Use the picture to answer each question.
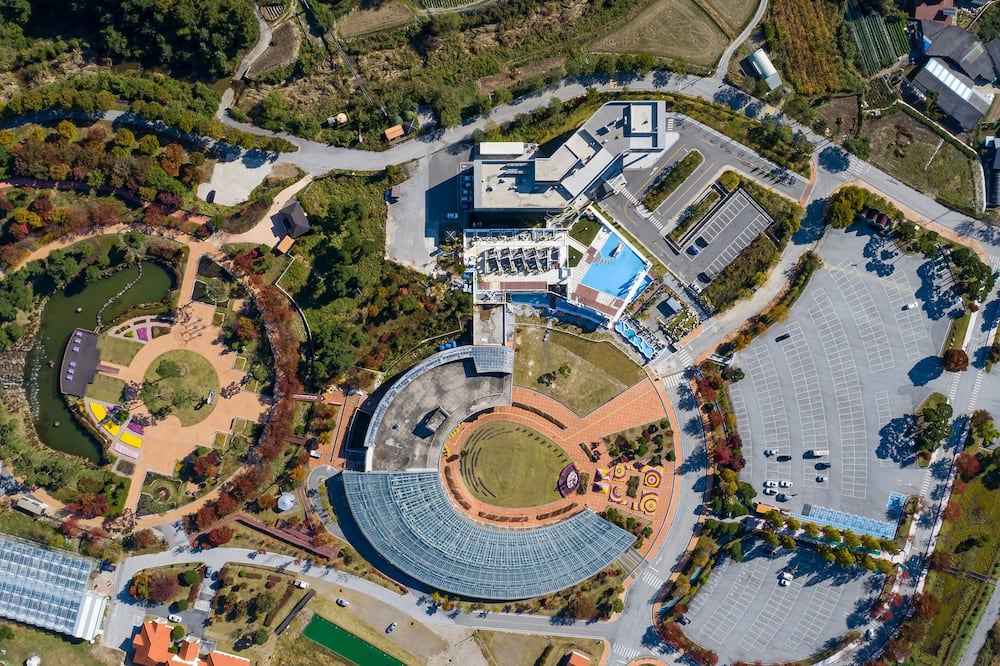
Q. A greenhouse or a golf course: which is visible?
greenhouse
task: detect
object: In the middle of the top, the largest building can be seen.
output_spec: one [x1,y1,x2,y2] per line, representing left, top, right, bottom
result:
[474,101,666,215]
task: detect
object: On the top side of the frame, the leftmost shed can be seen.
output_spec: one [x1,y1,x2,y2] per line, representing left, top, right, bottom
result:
[271,202,312,240]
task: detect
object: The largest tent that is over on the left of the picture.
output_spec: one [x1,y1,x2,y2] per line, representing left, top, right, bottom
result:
[278,490,299,510]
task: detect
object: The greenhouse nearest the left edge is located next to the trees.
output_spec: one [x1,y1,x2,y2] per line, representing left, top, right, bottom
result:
[0,533,95,637]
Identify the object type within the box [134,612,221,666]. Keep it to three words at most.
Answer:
house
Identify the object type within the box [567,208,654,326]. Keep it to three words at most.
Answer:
swimming pool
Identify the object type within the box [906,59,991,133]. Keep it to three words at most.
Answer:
barn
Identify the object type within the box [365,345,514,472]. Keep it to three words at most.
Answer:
building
